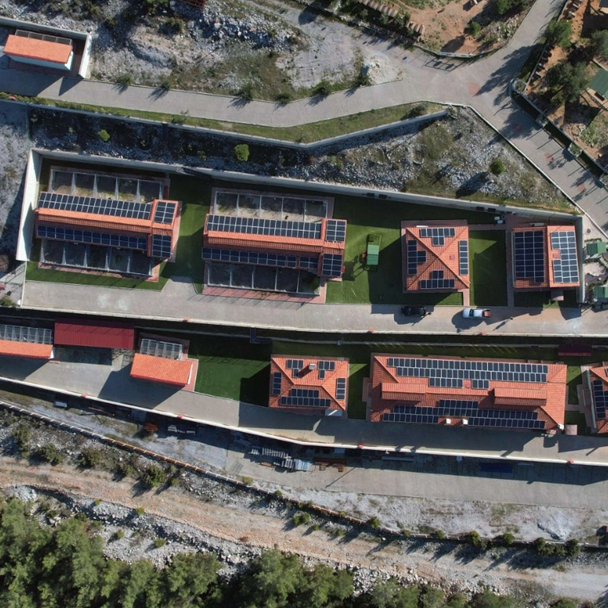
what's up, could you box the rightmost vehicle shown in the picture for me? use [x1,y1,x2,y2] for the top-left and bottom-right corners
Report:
[461,307,493,320]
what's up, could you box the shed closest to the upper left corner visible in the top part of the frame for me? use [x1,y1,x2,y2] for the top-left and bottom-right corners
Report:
[3,25,86,80]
